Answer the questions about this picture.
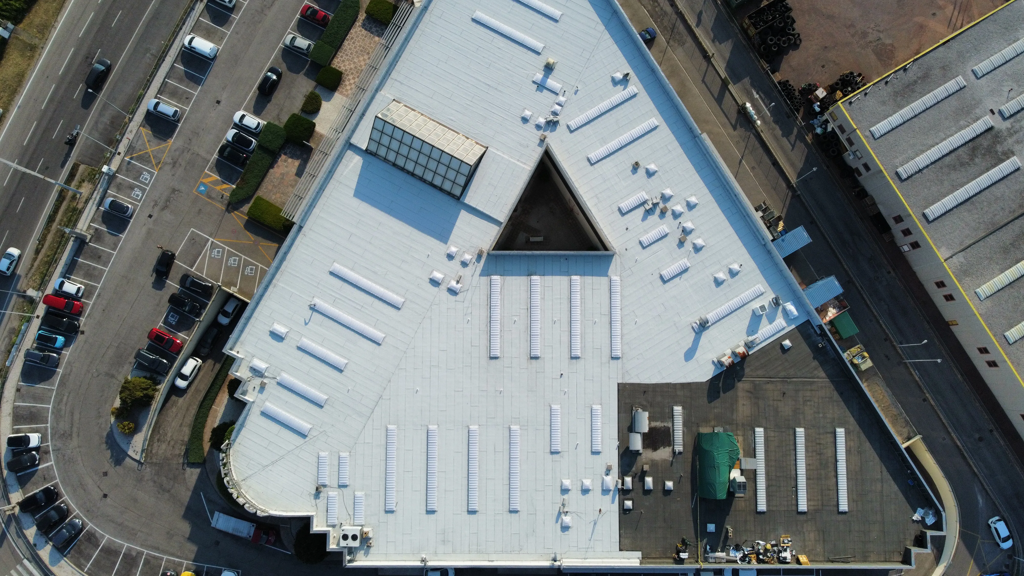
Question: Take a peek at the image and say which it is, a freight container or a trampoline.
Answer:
freight container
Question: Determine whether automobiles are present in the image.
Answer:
Yes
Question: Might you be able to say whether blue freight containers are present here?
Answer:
Yes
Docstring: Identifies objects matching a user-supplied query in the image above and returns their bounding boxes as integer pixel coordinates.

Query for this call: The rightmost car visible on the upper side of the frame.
[637,23,661,45]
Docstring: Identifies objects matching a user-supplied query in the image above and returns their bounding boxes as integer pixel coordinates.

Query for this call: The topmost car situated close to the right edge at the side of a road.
[986,515,1014,549]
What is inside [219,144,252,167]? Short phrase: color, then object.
black car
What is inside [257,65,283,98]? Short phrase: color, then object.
black car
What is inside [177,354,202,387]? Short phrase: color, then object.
white car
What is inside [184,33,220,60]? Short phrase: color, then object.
white vehicle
